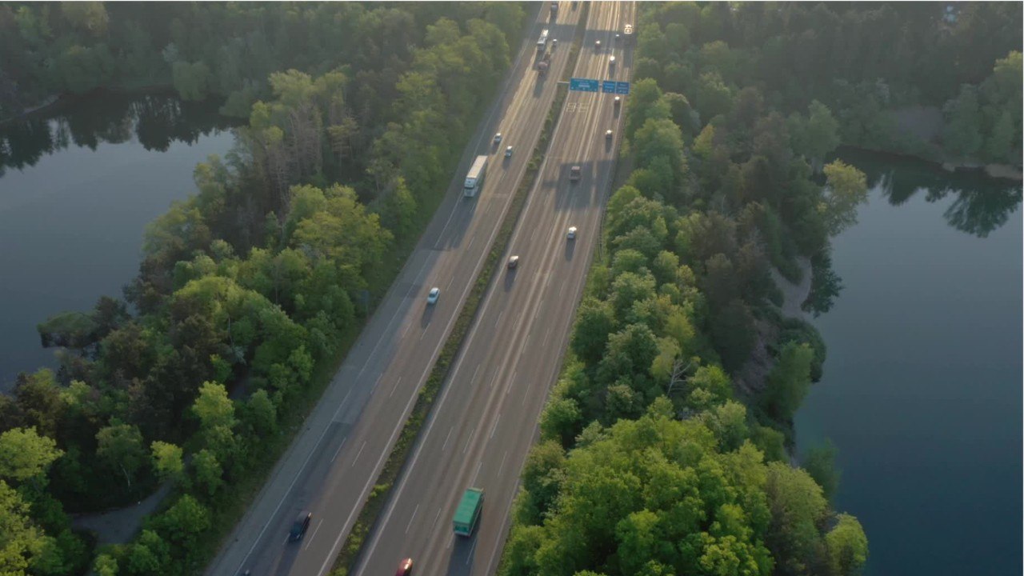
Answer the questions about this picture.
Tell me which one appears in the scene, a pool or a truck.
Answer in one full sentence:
Of the two, only a truck appears.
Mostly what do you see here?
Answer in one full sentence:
What you mostly see from above here is trees.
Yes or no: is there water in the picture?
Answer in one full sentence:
Yes, some water is visible.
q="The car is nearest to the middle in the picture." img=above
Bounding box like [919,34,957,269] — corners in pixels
[507,256,519,269]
